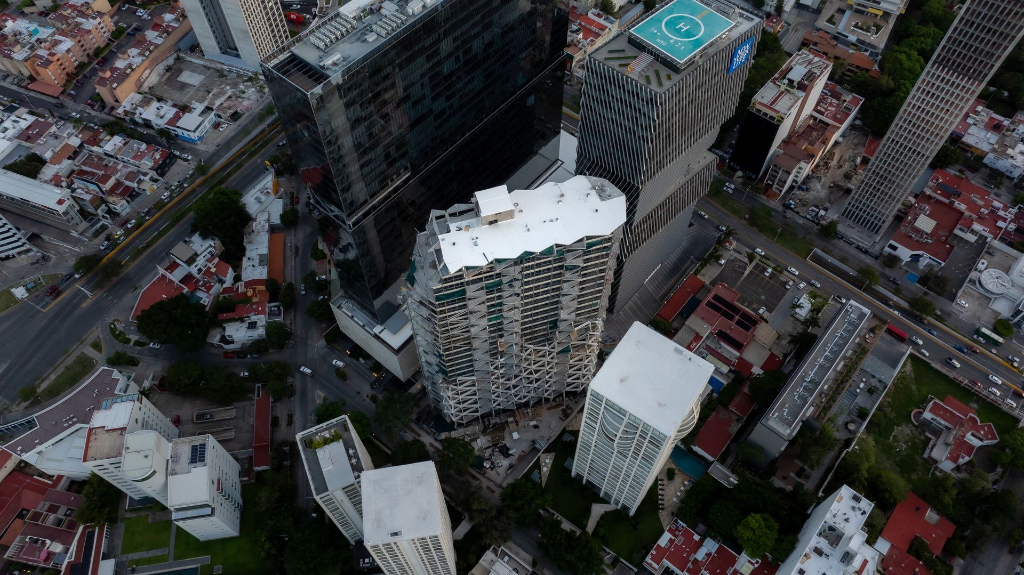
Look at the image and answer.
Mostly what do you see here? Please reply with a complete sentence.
Most of the picture is covered by buildings.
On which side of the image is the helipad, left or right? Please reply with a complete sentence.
The helipad is on the right side of the image.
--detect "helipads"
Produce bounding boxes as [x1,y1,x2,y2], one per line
[616,0,746,77]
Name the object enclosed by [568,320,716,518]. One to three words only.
building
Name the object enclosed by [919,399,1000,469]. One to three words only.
house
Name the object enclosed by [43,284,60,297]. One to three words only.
vehicle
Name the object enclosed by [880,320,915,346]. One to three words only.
bus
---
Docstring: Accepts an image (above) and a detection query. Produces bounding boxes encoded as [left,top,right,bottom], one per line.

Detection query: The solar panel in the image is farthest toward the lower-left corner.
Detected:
[71,529,97,575]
